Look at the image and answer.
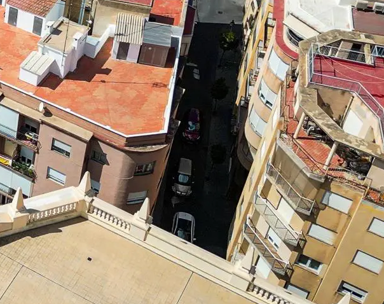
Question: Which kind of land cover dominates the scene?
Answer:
buildings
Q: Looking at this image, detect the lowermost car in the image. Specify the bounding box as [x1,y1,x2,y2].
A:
[172,207,198,249]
